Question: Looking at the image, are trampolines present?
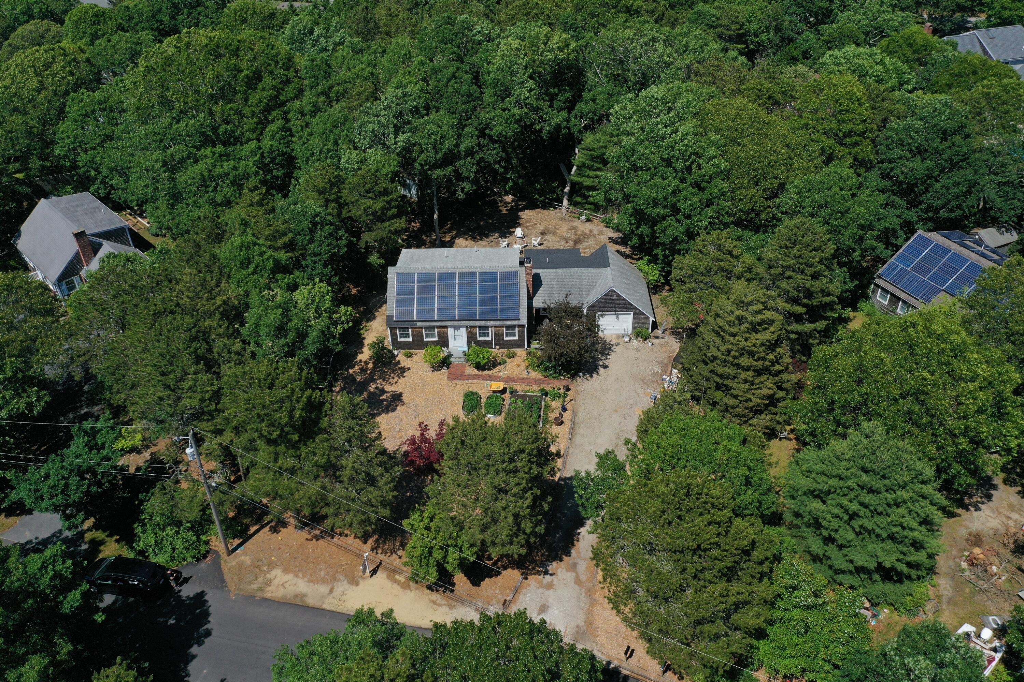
No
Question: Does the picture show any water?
No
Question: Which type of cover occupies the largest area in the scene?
trees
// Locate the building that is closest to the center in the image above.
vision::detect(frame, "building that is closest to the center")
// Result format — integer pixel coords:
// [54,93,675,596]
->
[386,244,656,363]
